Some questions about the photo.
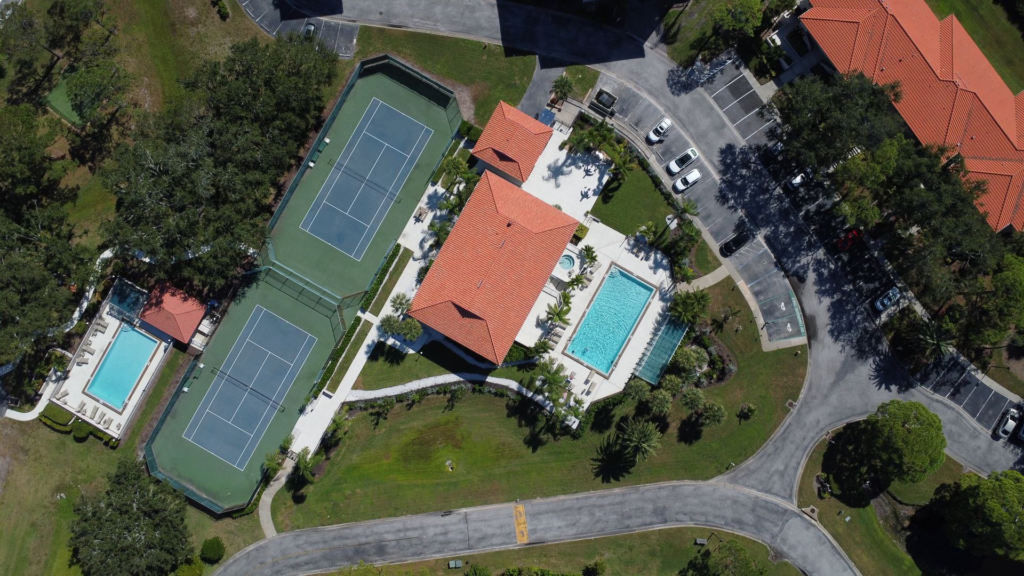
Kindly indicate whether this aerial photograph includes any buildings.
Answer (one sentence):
Yes, you can see a building in this photo.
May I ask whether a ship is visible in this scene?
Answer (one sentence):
No, no ship is visible in the scene.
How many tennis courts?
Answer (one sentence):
I count 2 tennis courts.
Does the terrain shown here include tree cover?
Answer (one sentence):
Yes, tree cover can be seen from above here.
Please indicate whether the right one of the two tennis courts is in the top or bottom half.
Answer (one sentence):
Seen from above, the right one of the two tennis courts lies in the top half of the view.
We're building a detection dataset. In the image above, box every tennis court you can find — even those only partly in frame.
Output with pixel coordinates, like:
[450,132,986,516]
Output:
[269,61,460,297]
[146,260,365,507]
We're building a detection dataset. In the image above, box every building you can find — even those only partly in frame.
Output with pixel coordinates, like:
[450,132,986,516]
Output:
[472,100,553,183]
[407,170,579,366]
[139,286,209,344]
[793,0,1024,256]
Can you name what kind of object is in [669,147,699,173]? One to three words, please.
car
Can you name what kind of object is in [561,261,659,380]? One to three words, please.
swimming pool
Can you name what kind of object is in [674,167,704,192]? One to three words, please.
car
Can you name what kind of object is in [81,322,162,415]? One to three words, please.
swimming pool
